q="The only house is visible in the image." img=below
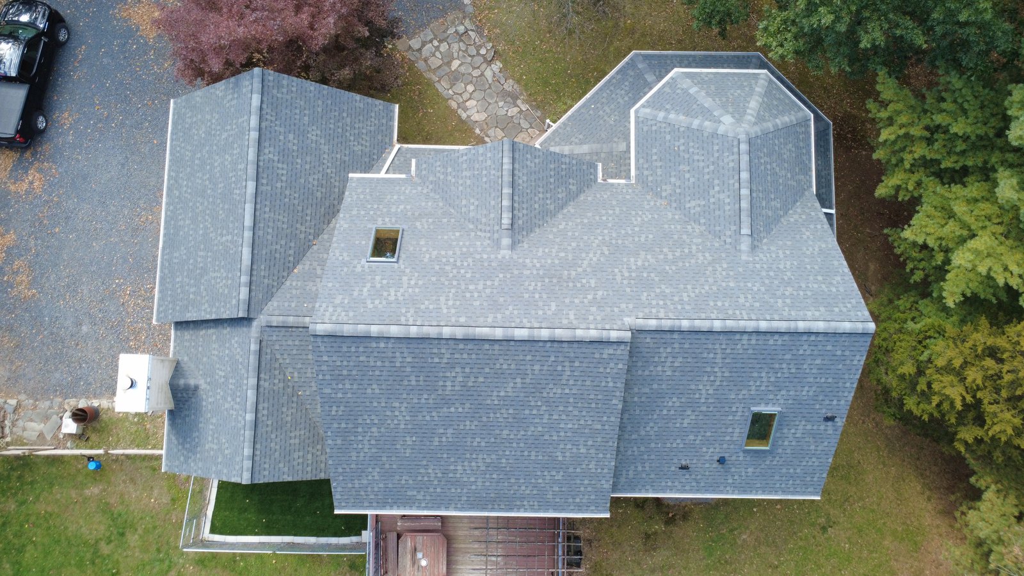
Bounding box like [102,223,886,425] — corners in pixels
[113,48,876,520]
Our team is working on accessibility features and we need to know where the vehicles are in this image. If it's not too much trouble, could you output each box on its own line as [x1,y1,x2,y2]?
[0,0,71,155]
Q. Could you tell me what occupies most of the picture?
buildings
